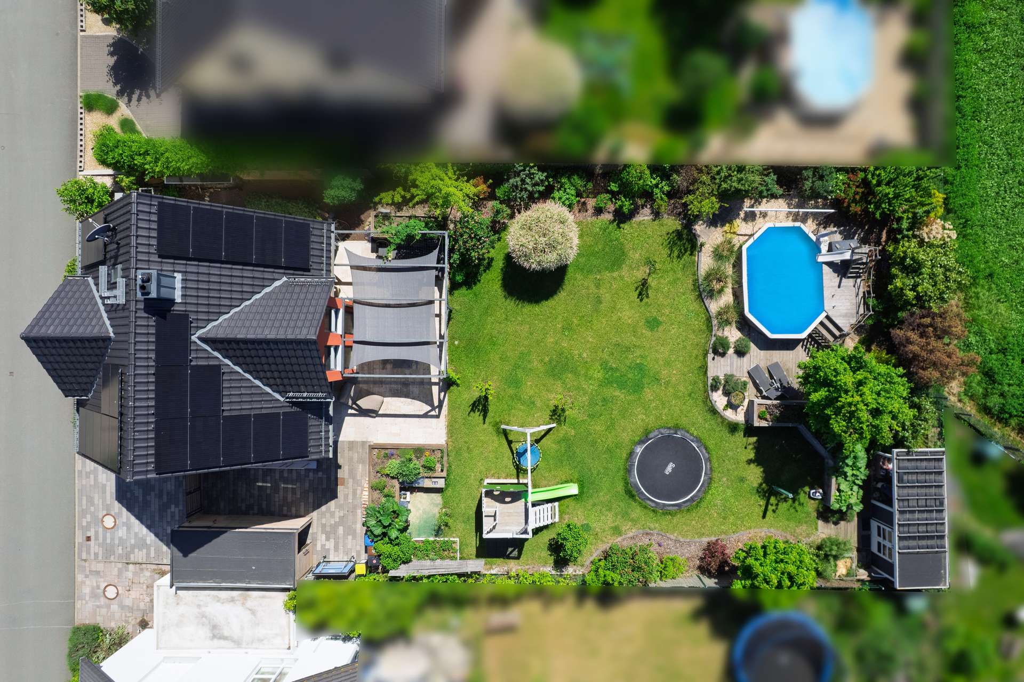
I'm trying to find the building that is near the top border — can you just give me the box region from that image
[157,0,445,119]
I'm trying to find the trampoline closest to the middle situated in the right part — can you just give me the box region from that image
[627,427,711,511]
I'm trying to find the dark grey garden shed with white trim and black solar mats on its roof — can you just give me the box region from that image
[867,444,949,589]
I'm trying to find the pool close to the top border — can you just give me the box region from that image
[781,0,875,122]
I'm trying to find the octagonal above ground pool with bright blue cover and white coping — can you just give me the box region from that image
[738,222,827,338]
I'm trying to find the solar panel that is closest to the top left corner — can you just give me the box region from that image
[81,213,106,265]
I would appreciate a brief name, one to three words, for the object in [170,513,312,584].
shed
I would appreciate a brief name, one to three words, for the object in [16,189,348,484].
house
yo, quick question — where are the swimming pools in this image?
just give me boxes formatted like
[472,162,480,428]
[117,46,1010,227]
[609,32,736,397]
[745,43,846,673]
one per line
[738,222,827,338]
[781,0,875,122]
